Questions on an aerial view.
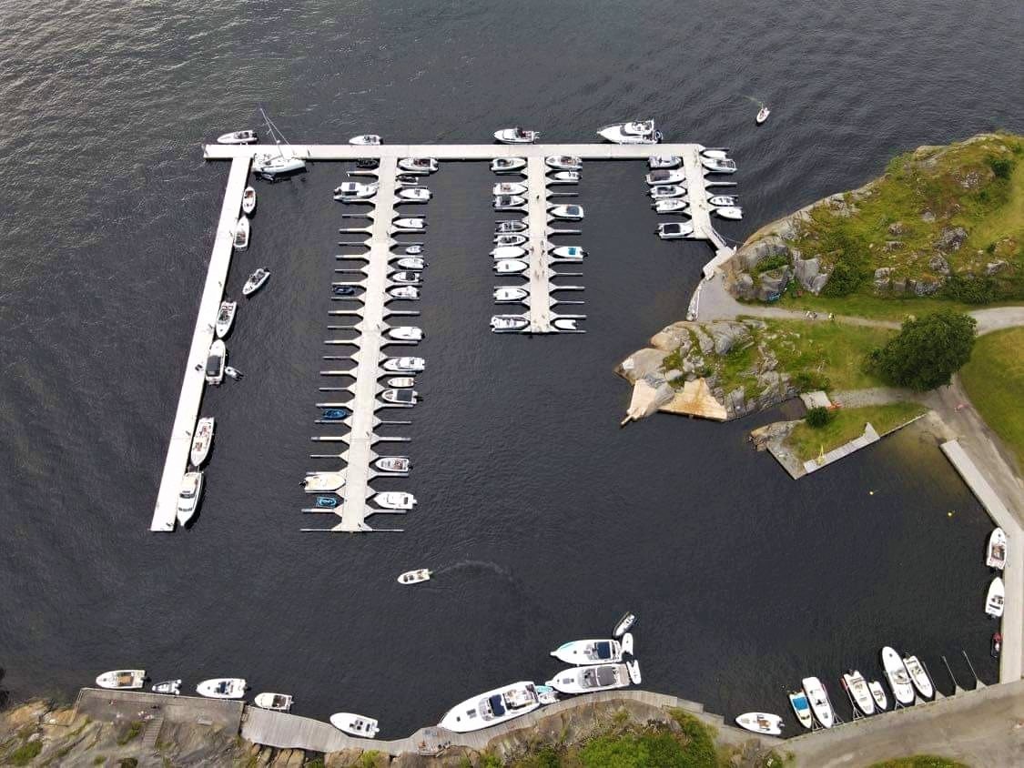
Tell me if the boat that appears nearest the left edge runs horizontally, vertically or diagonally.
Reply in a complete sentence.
From this overhead view, the boat that appears nearest the left edge appears to run horizontally.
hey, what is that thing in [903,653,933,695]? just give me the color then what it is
white boat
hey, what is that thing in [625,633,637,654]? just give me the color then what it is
white boat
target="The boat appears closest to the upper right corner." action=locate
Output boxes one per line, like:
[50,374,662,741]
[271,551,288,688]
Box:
[756,105,771,123]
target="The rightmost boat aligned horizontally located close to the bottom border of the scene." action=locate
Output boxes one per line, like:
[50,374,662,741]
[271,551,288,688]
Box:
[735,710,785,734]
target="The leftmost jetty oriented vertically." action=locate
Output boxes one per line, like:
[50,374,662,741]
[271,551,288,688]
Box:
[151,158,251,532]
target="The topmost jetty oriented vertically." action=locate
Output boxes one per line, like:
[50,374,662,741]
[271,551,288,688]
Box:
[683,156,711,241]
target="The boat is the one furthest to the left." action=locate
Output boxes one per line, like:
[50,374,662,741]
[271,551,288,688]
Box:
[94,668,149,690]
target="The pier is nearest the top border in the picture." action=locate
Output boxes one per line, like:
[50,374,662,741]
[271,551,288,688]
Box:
[204,143,700,160]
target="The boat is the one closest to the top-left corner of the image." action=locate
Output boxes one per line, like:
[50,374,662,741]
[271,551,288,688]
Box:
[218,131,258,144]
